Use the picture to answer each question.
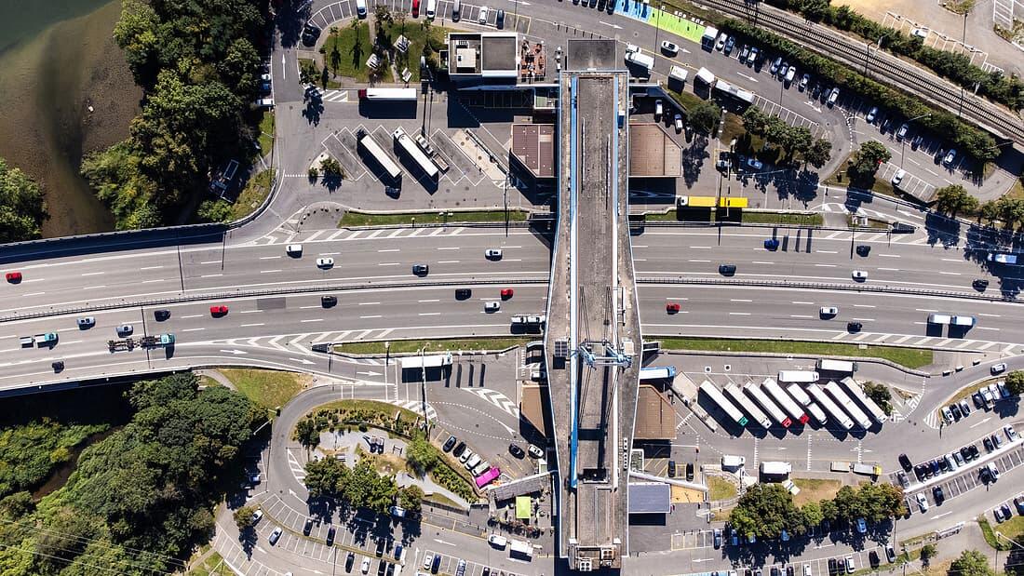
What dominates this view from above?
paved ground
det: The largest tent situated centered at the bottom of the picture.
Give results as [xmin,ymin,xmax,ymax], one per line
[516,495,531,518]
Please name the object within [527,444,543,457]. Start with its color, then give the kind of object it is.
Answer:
white vehicle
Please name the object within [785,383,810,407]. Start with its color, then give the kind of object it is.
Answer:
white truck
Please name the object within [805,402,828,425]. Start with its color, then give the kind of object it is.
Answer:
white truck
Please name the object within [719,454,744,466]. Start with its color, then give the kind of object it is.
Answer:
white vehicle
